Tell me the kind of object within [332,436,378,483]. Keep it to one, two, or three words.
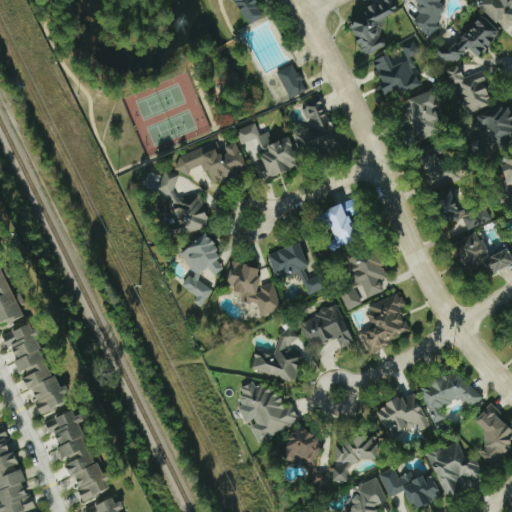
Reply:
house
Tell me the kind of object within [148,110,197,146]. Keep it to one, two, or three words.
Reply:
tennis court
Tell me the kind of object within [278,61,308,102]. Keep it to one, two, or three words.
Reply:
building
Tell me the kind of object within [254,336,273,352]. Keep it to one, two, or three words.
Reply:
swimming pool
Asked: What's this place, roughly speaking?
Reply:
residential area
